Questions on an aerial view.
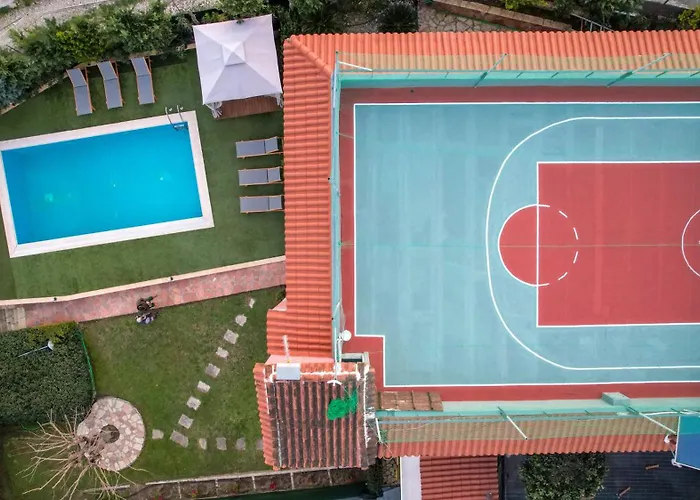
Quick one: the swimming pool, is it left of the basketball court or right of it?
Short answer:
on the left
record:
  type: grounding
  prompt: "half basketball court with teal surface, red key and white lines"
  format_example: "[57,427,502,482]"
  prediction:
[340,88,700,401]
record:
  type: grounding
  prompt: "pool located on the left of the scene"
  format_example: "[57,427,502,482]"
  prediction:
[0,103,213,257]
